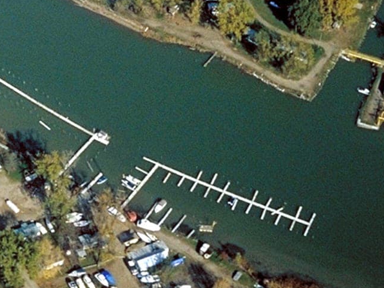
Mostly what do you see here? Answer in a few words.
water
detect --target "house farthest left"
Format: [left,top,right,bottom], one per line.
[13,221,48,240]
